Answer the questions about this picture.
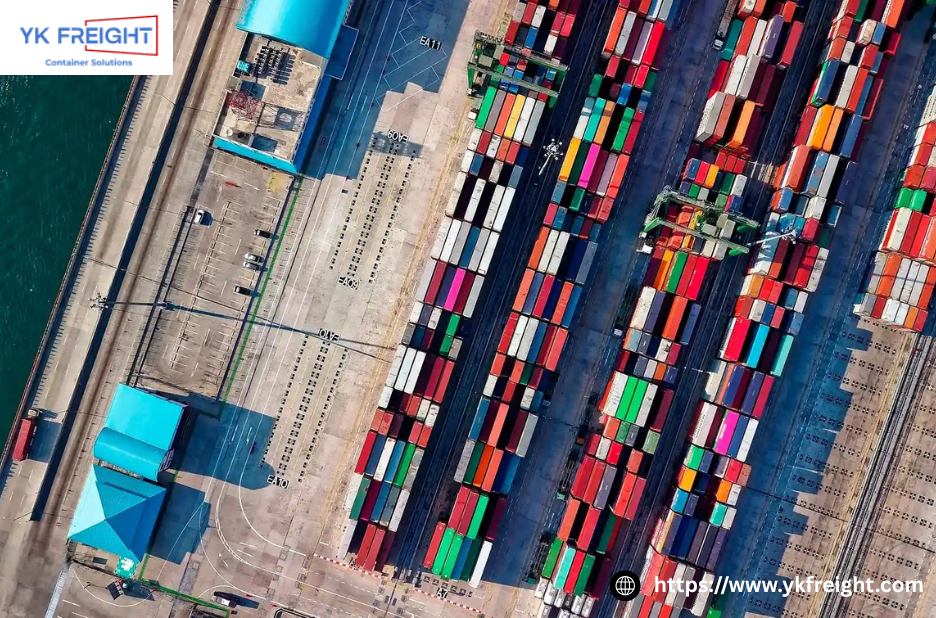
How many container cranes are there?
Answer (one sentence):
In total, 2 container cranes can be seen.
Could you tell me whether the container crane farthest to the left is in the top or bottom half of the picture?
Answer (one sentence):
Seen from above, the container crane farthest to the left lies in the top half of the view.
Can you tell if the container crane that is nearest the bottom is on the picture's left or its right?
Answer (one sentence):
The container crane that is nearest the bottom is on the right side of the image.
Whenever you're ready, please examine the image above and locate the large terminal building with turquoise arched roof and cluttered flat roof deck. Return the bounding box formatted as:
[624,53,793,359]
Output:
[211,0,363,176]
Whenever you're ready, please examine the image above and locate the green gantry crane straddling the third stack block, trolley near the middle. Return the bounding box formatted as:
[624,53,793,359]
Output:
[636,186,766,266]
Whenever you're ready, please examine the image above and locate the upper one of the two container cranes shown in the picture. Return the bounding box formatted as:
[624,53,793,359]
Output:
[464,34,574,129]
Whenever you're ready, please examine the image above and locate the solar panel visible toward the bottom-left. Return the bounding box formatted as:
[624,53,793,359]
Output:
[109,581,130,600]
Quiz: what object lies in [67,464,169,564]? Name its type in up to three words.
building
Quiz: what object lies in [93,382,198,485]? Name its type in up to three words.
building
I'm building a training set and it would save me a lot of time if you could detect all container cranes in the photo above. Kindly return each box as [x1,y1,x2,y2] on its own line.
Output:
[464,34,574,129]
[636,186,766,266]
